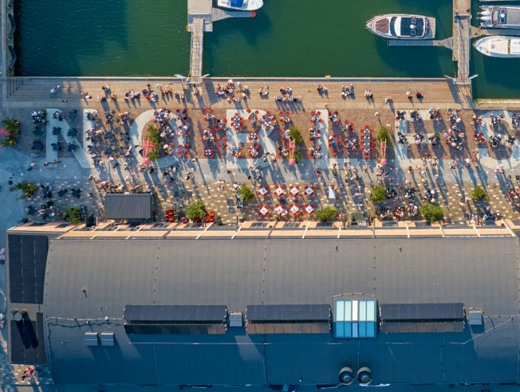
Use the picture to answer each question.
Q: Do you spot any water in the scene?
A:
Yes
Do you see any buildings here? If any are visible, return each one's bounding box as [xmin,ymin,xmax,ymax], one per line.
[6,213,520,384]
[106,192,157,218]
